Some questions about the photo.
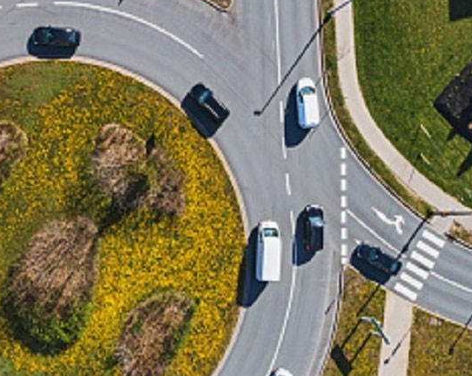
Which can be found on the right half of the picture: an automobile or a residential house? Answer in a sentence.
Visible on the right half of the picture is an automobile.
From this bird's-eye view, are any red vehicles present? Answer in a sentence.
No, the scene contains no red vehicle.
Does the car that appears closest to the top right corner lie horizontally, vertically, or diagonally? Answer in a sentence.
The car that appears closest to the top right corner is laid out vertically.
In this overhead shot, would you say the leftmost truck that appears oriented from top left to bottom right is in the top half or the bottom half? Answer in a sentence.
Seen from above, the leftmost truck that appears oriented from top left to bottom right lies in the top half of the view.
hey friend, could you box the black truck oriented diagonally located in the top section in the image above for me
[186,82,232,128]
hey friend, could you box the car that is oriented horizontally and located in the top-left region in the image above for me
[29,25,80,49]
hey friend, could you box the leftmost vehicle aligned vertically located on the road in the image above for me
[254,223,280,279]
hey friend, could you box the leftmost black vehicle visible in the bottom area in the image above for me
[301,205,324,251]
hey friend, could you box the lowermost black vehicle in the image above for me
[351,246,399,278]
